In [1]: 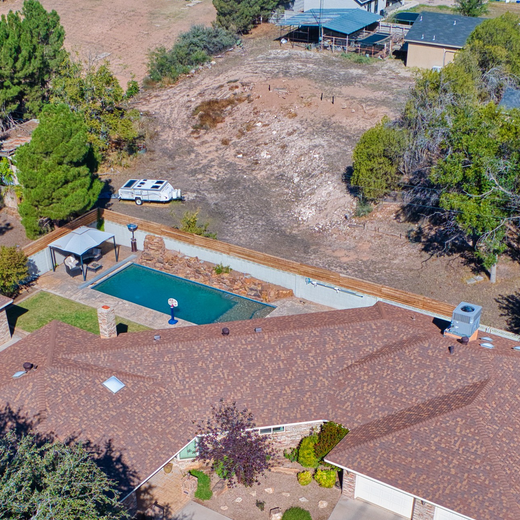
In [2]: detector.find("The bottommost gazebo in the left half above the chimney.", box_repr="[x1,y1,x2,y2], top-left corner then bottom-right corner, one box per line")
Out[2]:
[49,226,118,281]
